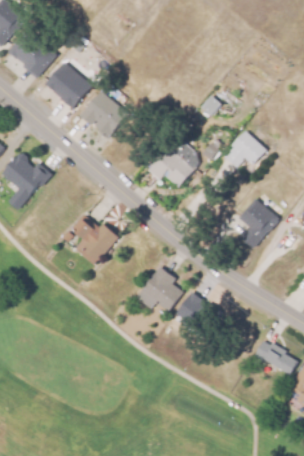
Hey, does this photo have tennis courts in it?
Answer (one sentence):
No, no tennis court can be seen from above.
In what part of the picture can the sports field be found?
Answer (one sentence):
The sports field is in the bottom left part of the image.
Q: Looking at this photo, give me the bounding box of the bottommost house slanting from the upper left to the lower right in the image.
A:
[258,336,300,375]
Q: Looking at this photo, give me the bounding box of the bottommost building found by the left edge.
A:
[2,153,54,210]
